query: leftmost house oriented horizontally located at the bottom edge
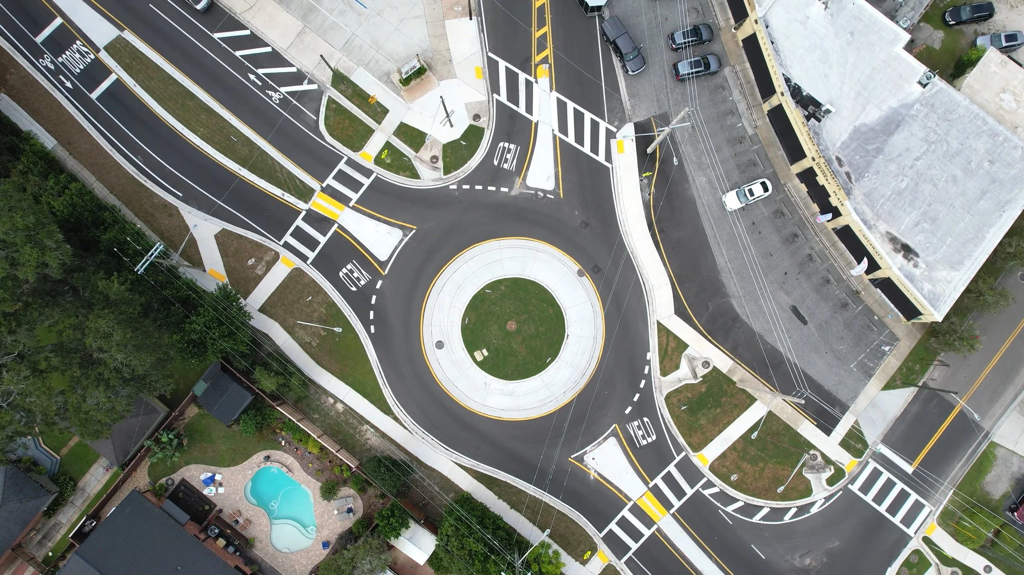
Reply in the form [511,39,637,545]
[60,480,269,575]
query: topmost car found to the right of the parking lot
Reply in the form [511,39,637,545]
[941,0,997,29]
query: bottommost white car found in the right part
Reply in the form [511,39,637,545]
[720,179,775,210]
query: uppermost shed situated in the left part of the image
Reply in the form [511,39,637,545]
[191,365,258,425]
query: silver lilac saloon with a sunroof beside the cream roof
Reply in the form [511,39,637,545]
[974,29,1024,53]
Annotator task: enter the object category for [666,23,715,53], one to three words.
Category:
car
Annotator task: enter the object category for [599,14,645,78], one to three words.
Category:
truck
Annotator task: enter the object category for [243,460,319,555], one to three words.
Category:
swimming pool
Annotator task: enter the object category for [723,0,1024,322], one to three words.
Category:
building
